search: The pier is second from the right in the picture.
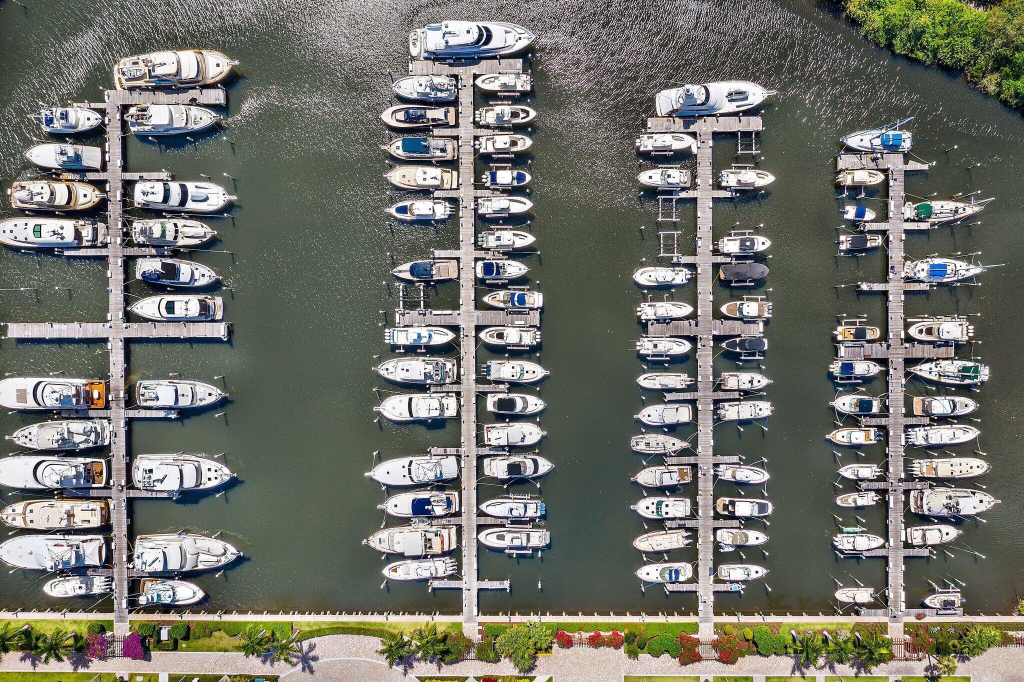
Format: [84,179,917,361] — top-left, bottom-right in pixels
[647,117,763,623]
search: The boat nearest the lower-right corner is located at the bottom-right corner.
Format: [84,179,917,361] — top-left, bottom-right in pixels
[920,591,969,609]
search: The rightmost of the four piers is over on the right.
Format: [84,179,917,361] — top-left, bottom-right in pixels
[836,154,963,623]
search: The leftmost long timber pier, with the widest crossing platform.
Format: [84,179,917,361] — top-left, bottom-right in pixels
[7,90,229,623]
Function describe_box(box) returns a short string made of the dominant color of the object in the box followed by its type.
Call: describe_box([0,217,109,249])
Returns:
white boat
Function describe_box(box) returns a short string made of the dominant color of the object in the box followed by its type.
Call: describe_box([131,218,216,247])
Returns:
white boat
